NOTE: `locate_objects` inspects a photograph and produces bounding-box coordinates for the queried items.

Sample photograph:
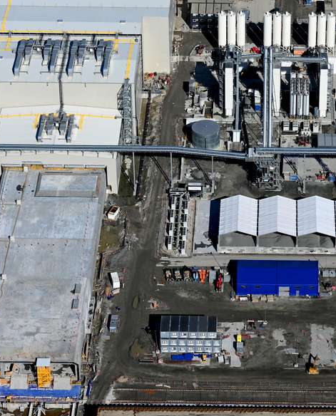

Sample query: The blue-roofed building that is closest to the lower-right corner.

[237,261,320,297]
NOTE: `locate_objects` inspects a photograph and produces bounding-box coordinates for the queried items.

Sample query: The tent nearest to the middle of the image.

[220,195,258,244]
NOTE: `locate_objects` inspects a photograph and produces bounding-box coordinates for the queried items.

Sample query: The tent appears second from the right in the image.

[259,195,296,245]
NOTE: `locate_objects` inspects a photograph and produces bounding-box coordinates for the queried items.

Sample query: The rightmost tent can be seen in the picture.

[298,195,335,245]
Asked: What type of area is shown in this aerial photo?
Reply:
industrial area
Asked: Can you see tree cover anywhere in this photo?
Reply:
No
